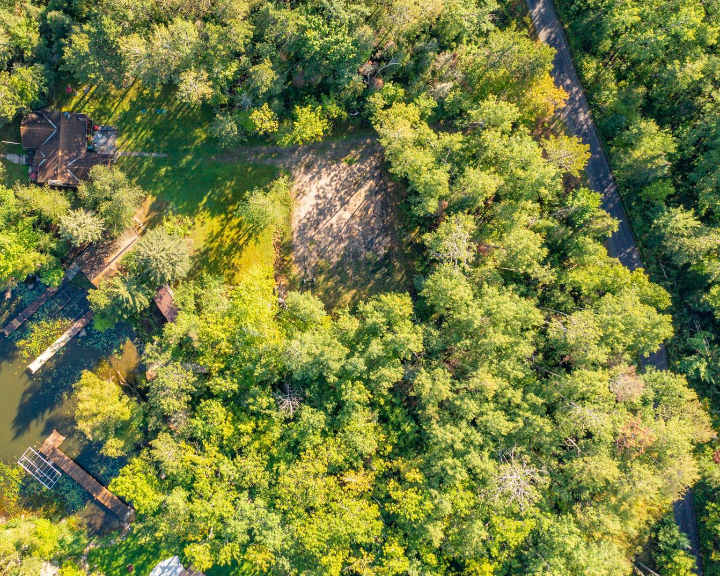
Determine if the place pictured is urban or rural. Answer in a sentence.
The land in this view is best described as rural.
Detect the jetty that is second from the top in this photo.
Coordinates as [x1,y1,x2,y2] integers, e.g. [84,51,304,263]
[26,311,95,374]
